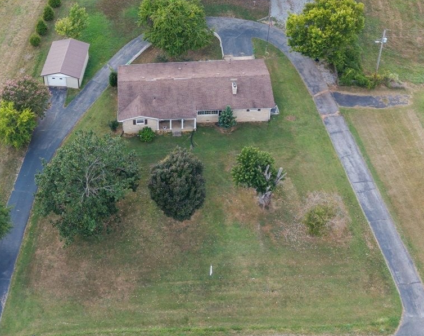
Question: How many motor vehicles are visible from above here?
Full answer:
I count no motor vehicles.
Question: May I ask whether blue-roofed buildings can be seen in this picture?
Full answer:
No, there isn't any blue-roofed building down there.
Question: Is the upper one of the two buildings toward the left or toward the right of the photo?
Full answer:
It is on the left.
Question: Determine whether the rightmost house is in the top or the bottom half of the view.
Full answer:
Seen from above, the rightmost house lies in the top half of the view.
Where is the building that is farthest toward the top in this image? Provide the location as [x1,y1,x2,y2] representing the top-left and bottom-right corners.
[42,37,90,88]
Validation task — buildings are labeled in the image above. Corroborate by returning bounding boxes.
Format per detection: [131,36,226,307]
[42,37,90,88]
[117,60,281,134]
